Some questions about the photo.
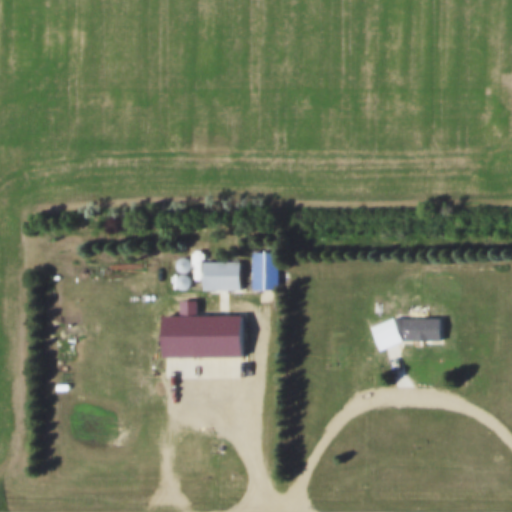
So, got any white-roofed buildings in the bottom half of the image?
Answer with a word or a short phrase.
Yes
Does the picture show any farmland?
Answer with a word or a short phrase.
Yes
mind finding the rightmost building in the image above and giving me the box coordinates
[398,307,442,348]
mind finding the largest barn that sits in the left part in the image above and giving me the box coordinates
[160,298,244,358]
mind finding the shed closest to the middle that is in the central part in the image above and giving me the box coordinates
[252,252,279,292]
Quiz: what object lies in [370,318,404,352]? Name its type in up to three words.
building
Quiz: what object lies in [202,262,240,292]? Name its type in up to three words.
shed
